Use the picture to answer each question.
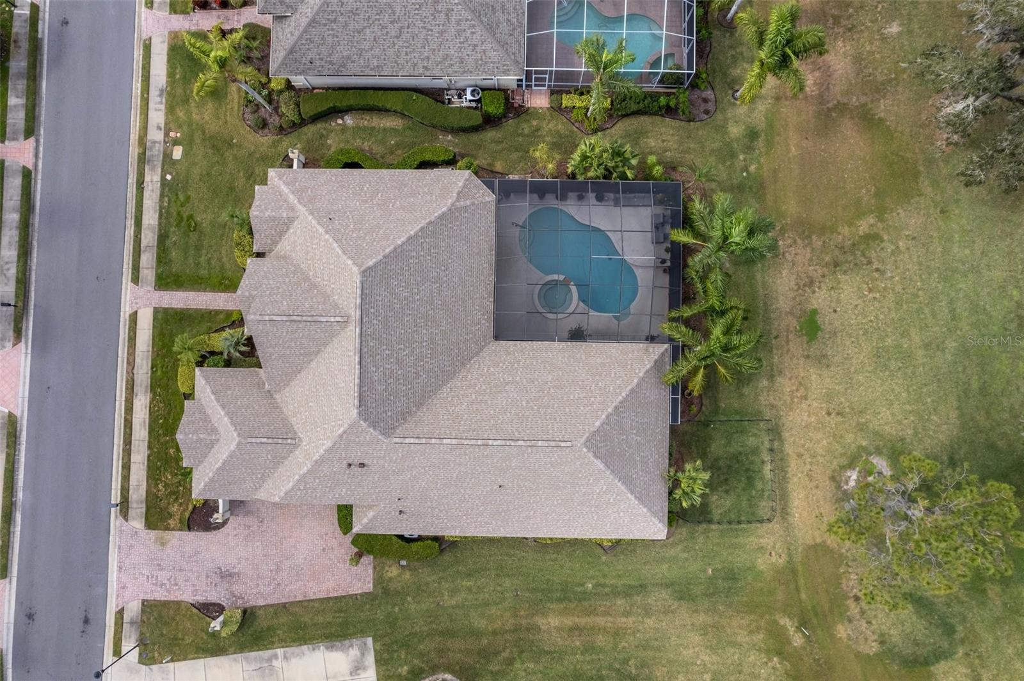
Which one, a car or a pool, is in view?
pool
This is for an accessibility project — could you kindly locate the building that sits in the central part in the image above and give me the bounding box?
[176,167,670,540]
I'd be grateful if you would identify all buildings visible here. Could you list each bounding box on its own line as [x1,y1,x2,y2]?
[176,167,670,540]
[256,0,526,89]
